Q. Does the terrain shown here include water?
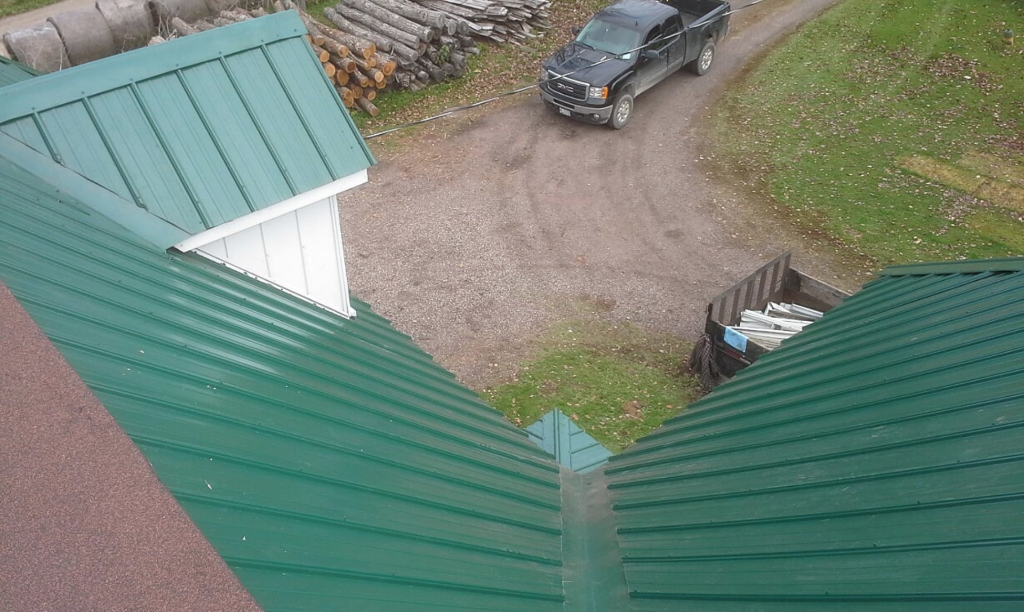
No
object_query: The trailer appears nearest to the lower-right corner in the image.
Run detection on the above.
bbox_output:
[706,250,845,381]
